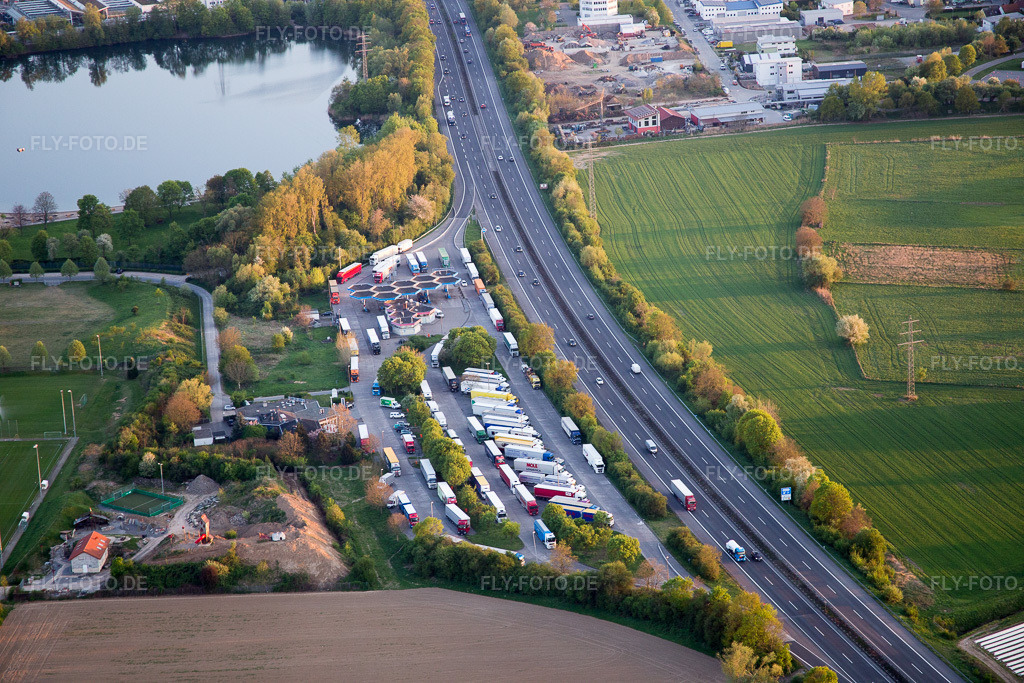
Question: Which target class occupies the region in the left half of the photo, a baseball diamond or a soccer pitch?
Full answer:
Looking in the left half of the photo, you will find a soccer pitch.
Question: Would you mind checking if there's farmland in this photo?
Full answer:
Yes, some farmland is visible.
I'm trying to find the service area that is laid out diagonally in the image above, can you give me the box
[327,176,860,683]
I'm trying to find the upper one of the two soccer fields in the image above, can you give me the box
[0,372,104,437]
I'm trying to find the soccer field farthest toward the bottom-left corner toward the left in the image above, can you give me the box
[0,441,66,548]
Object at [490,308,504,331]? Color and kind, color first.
white vehicle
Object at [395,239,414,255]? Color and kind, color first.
white vehicle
